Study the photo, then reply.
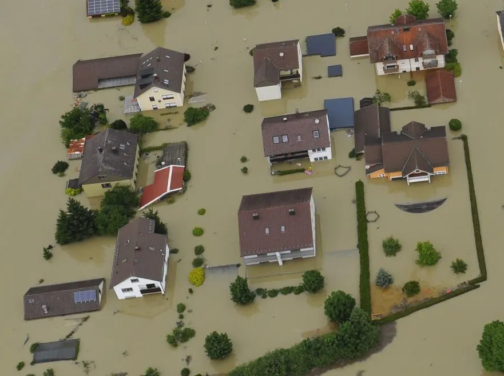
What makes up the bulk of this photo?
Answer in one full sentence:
What you mostly see from above here is water.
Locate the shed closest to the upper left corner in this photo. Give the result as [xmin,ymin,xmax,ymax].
[87,0,121,18]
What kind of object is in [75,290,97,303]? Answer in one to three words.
solar array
